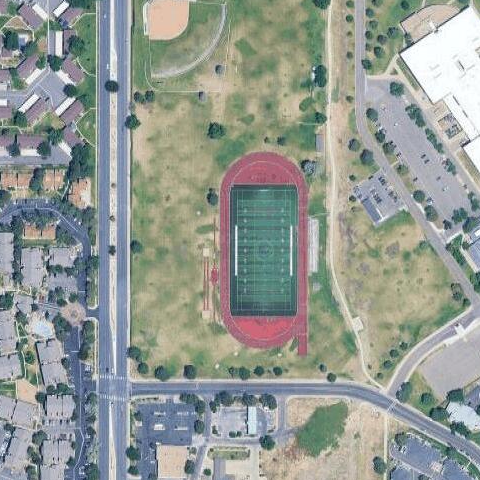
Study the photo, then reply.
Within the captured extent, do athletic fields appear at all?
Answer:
Yes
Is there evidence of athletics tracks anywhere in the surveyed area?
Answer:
Yes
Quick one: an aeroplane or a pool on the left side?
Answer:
pool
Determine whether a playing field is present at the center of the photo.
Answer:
Yes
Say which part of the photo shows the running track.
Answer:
center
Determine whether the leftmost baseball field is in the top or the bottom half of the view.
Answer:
top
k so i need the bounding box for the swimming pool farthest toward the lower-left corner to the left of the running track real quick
[30,313,59,342]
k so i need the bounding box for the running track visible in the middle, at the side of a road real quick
[220,151,308,355]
